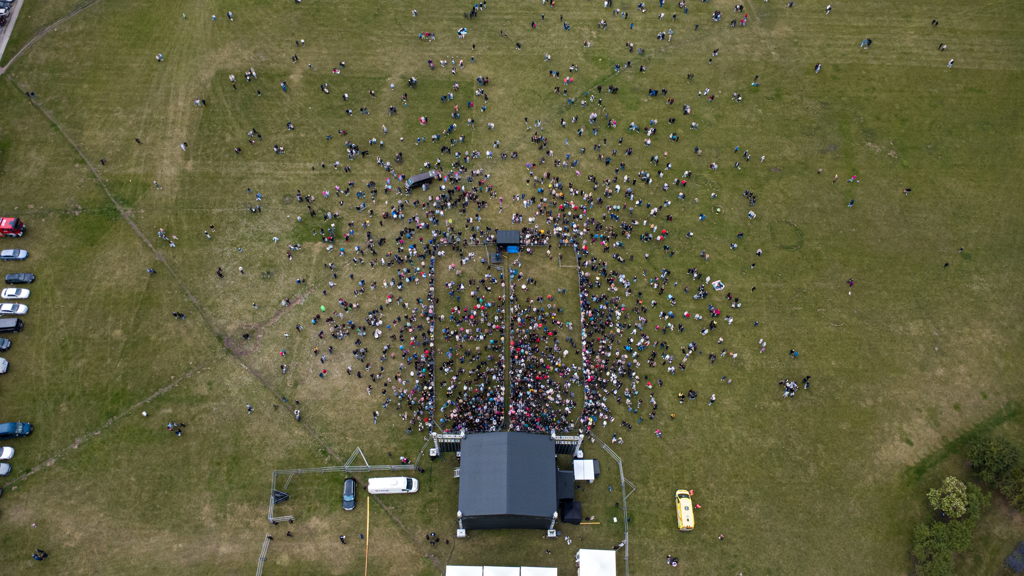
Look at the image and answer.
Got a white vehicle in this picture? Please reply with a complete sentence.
Yes, a white vehicle appears in the view.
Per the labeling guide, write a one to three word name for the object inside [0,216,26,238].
truck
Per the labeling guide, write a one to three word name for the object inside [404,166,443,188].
vehicle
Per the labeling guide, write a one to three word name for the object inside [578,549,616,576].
tent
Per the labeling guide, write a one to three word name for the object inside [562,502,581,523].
gazebo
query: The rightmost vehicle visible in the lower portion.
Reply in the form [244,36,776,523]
[675,489,693,530]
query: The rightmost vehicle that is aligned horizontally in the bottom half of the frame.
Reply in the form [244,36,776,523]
[368,476,419,494]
